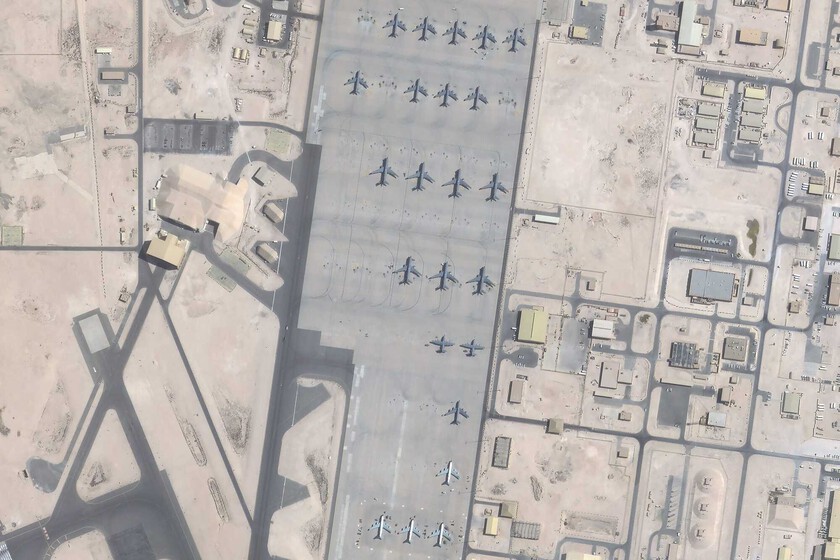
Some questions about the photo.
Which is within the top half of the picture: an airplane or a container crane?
airplane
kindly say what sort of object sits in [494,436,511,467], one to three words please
building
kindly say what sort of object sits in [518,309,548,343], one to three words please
hangar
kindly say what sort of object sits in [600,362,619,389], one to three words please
building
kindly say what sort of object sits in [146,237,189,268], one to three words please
hangar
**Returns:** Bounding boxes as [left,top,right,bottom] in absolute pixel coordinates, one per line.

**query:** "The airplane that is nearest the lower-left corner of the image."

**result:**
[368,516,393,540]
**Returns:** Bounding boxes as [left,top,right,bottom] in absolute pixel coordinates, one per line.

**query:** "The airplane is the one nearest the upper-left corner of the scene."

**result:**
[345,71,368,95]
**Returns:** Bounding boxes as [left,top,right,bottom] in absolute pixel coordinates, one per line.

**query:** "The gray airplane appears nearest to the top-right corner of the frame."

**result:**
[503,29,527,52]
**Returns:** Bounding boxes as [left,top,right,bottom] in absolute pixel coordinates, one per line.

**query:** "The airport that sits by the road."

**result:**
[0,0,541,560]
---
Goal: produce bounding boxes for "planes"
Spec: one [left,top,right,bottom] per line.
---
[345,71,368,95]
[433,84,458,107]
[407,162,436,191]
[436,462,462,486]
[383,13,408,37]
[427,522,453,548]
[413,16,438,40]
[479,173,508,202]
[404,79,428,102]
[431,262,459,290]
[503,29,527,52]
[368,516,393,540]
[442,170,471,198]
[445,401,469,426]
[463,87,488,111]
[468,267,496,295]
[460,339,486,357]
[371,157,399,186]
[394,257,422,285]
[473,25,497,49]
[431,335,456,353]
[442,20,467,44]
[399,519,423,544]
